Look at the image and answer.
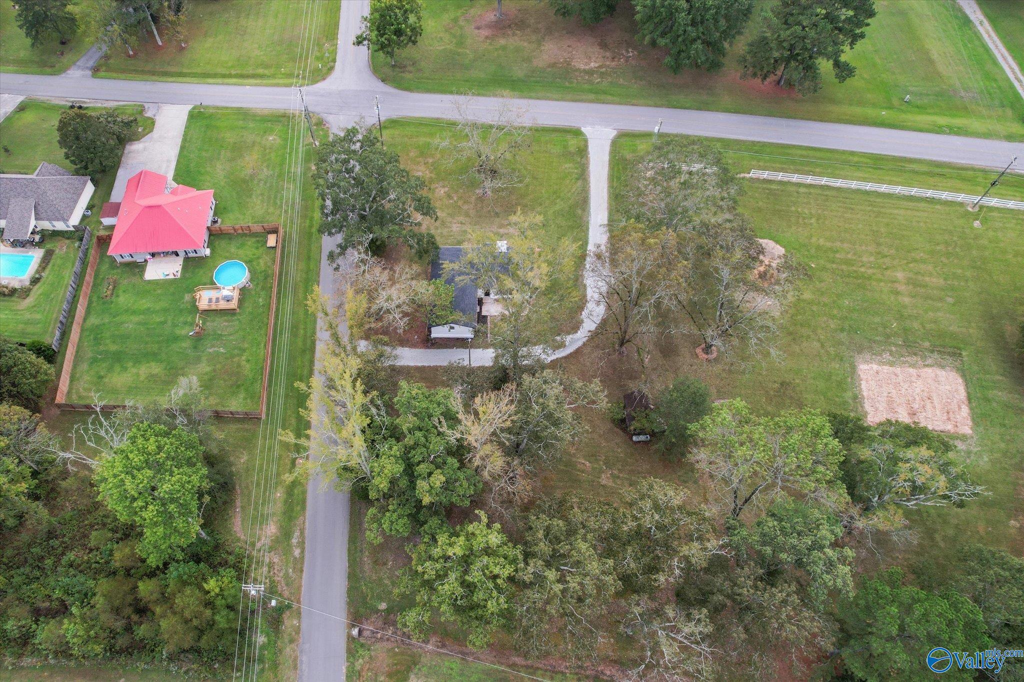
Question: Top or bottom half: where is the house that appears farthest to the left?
top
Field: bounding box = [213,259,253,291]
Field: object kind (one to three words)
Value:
swimming pool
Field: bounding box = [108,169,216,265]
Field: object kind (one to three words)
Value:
house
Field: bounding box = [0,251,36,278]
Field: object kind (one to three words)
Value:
swimming pool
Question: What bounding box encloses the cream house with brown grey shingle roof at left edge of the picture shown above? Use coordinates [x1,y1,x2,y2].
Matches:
[0,162,97,247]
